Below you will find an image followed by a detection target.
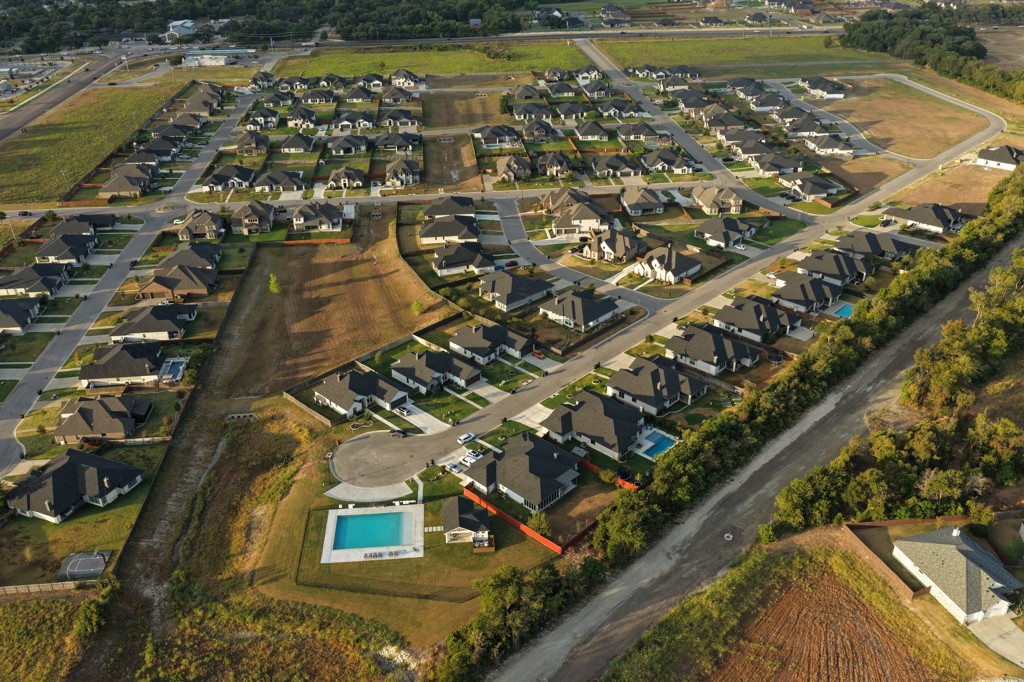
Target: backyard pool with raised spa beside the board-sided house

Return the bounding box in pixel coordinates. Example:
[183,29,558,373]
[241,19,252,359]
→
[161,357,190,381]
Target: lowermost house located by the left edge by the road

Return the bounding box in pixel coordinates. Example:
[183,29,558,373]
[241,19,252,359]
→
[4,440,137,537]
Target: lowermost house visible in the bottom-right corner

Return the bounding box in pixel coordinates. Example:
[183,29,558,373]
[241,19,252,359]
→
[886,517,1024,626]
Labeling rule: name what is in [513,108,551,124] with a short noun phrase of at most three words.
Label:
house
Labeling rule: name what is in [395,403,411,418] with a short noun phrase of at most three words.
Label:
car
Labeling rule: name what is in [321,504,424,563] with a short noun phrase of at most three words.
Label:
swimming pool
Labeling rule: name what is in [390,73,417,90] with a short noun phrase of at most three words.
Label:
house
